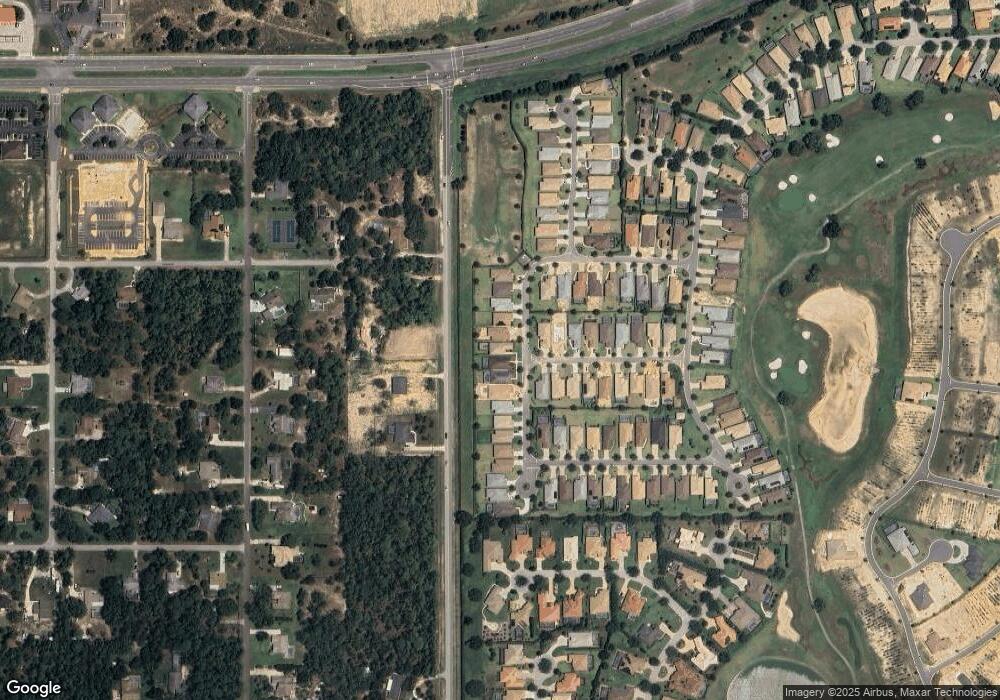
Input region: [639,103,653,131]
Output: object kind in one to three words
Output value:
house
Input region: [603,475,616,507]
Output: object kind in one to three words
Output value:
house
